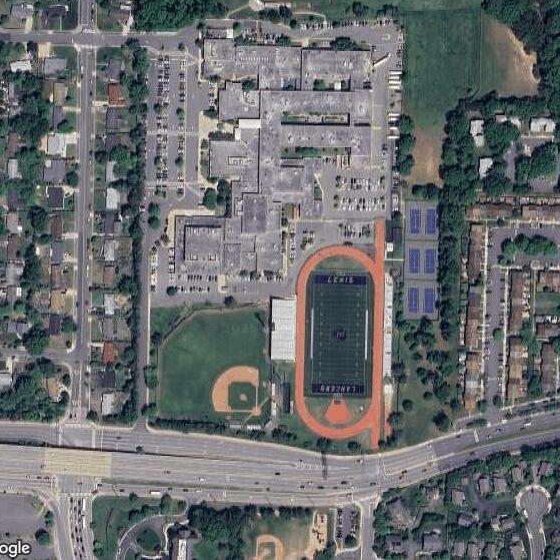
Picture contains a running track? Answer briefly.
Yes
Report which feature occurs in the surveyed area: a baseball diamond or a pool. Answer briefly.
baseball diamond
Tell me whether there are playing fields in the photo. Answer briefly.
Yes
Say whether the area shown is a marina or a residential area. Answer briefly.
residential area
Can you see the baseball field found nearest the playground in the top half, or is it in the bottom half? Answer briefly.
bottom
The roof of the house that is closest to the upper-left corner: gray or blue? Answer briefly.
gray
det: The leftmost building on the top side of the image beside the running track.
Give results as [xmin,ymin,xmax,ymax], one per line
[175,39,371,275]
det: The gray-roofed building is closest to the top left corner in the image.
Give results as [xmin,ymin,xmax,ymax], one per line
[11,4,31,25]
